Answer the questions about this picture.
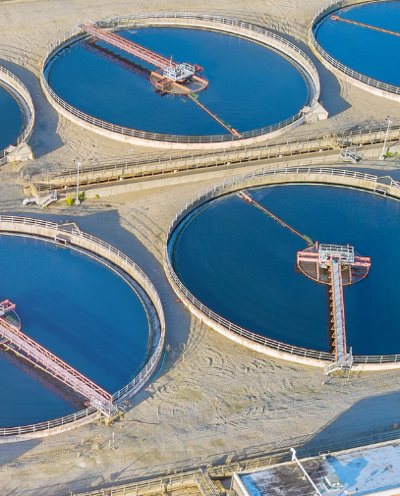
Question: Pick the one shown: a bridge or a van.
bridge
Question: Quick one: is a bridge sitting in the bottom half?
Yes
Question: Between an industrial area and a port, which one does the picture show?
industrial area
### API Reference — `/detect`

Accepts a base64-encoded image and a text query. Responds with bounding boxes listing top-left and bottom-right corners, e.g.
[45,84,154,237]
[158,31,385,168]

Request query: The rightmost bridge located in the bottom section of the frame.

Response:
[318,253,359,376]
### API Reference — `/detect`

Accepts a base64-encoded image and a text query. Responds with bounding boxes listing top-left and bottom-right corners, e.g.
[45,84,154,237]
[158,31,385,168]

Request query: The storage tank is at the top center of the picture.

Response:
[40,9,327,149]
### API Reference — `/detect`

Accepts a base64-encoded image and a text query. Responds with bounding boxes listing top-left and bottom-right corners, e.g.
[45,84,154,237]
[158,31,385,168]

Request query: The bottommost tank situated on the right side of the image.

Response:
[164,166,400,376]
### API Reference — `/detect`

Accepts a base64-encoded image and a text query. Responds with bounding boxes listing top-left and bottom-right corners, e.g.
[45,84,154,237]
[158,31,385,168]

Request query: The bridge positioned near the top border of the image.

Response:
[64,14,176,68]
